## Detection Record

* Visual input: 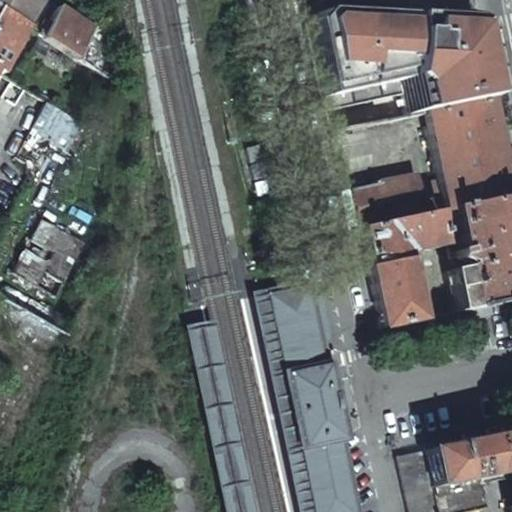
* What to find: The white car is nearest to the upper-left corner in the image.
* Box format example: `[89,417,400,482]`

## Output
[20,106,36,130]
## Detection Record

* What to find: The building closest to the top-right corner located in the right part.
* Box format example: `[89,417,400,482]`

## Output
[423,8,512,107]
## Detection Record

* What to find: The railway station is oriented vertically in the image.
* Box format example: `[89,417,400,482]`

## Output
[269,284,364,512]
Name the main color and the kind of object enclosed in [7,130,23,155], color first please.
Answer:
gray car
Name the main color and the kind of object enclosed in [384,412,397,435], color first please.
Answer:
white vehicle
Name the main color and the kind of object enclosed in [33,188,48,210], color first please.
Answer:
white vehicle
